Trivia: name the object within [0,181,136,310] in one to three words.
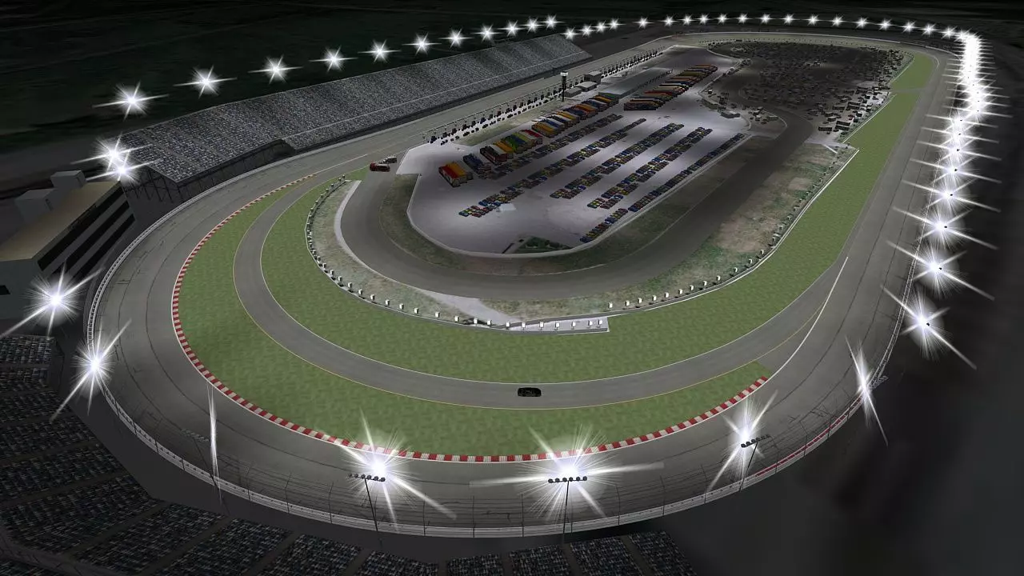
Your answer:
building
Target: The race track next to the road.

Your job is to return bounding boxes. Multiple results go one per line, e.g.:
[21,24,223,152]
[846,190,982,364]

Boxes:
[89,33,958,524]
